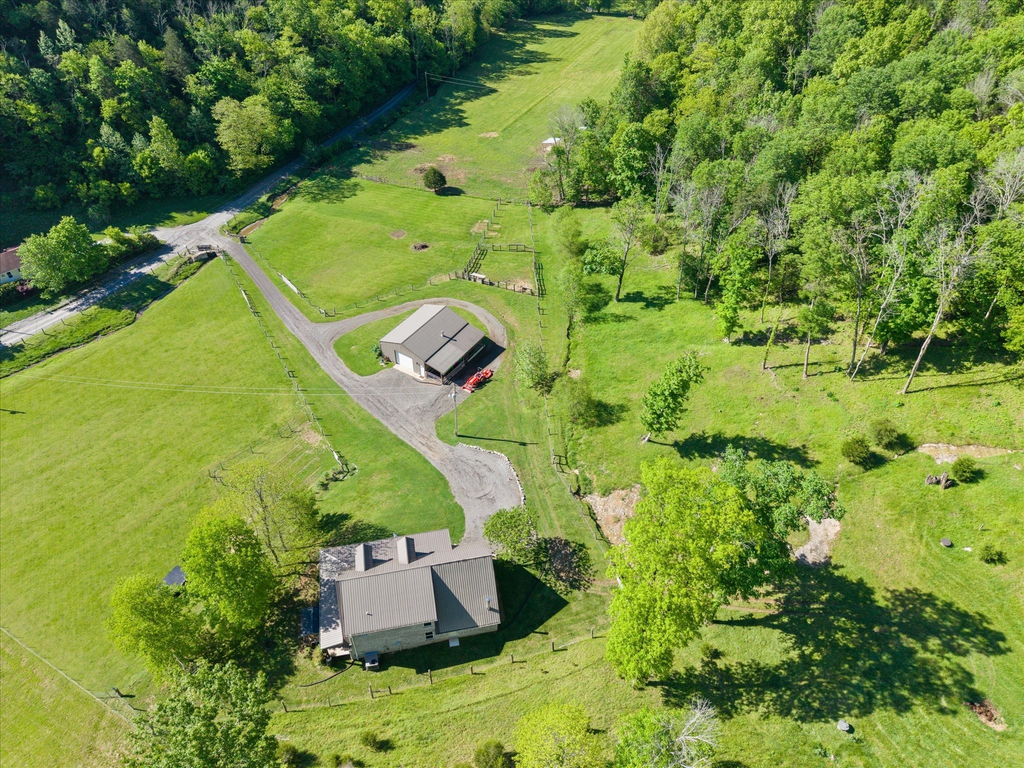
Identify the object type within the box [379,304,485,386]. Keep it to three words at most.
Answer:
barn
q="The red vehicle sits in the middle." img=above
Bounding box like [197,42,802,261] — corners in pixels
[458,369,495,397]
